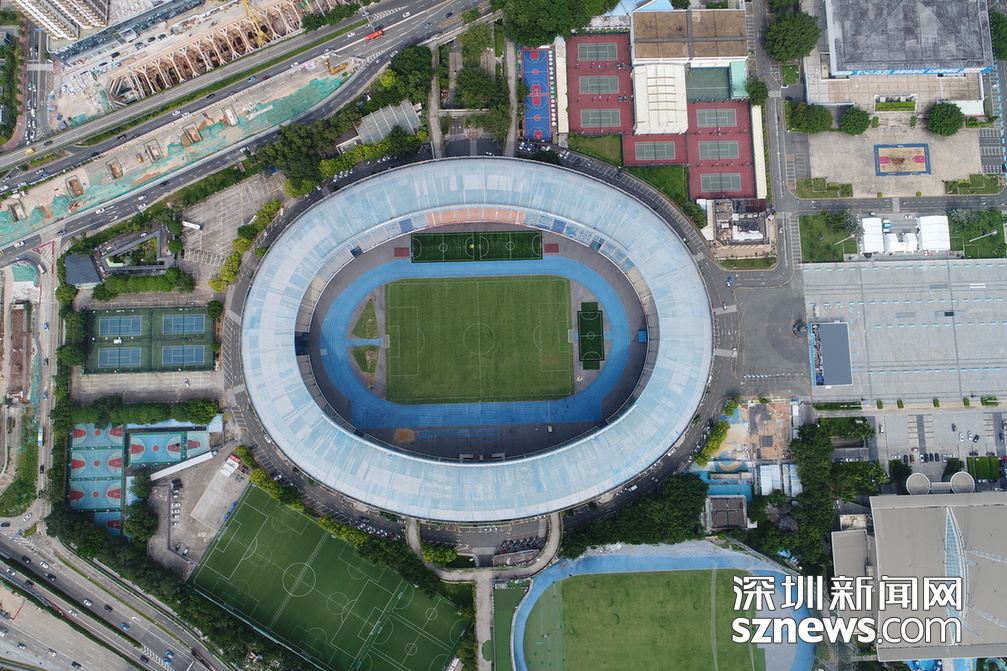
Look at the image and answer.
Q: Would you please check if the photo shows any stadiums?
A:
Yes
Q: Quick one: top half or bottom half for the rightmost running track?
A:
bottom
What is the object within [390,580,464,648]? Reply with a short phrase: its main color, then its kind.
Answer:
green soccer field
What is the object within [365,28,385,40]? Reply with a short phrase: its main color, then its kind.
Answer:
red vehicle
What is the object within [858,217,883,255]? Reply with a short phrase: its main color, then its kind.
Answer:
white tent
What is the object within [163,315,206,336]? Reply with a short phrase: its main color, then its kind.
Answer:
blue tennis court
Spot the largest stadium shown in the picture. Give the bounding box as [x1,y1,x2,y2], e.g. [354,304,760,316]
[239,155,715,524]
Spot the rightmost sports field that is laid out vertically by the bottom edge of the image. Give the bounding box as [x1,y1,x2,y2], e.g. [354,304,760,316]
[493,588,524,671]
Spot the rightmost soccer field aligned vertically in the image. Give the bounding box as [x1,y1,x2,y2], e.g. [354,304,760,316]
[577,302,604,370]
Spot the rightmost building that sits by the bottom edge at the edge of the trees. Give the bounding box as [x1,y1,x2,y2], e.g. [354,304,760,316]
[861,489,1007,662]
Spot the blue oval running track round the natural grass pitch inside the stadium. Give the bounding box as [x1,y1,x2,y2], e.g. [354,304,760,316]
[321,256,629,428]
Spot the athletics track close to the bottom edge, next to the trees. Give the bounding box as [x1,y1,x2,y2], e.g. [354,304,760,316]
[509,553,818,671]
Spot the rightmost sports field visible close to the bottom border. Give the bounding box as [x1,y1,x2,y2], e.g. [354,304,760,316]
[562,571,757,671]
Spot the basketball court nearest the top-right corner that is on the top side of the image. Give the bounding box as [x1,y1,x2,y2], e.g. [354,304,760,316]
[874,143,931,176]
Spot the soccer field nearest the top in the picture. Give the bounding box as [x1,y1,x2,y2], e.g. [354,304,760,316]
[411,230,543,264]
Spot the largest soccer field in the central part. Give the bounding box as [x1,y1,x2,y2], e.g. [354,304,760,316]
[385,275,574,404]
